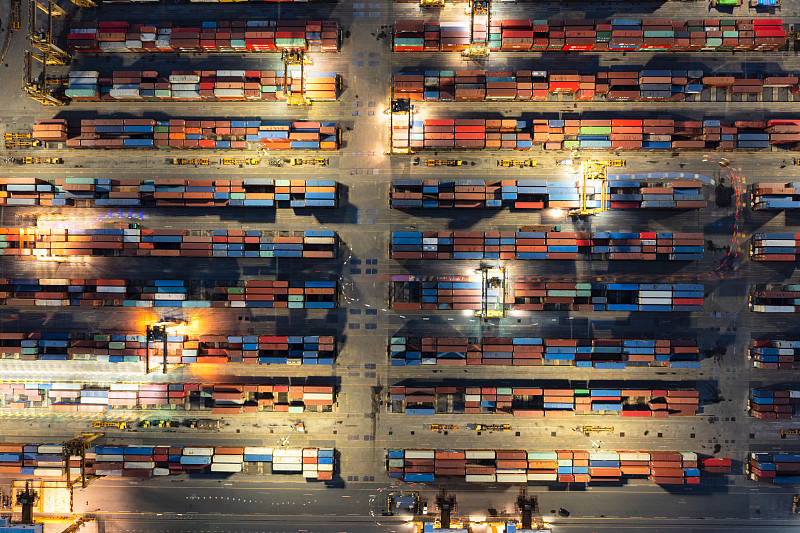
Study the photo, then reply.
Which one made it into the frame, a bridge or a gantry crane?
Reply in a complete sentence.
It is a gantry crane that can be seen here.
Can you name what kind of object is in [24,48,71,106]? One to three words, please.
container crane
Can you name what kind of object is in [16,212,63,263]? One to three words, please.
container crane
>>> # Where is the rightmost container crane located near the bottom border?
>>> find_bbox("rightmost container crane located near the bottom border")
[484,493,551,533]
